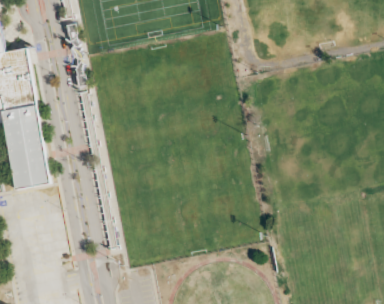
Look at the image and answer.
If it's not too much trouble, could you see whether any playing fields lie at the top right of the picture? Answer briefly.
Yes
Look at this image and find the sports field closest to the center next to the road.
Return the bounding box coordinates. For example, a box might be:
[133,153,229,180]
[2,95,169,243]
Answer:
[90,30,266,268]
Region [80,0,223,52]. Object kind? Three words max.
sports field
